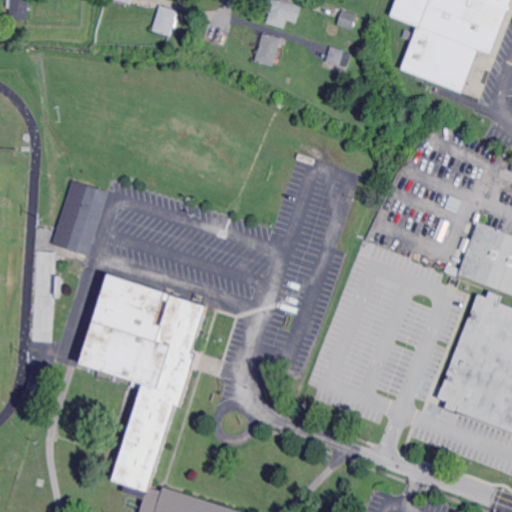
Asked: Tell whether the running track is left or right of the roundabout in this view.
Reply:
to the left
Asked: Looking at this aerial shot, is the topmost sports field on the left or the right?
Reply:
left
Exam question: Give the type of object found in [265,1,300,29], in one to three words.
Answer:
house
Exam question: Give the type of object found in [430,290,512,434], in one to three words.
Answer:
building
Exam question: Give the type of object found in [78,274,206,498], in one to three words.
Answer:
building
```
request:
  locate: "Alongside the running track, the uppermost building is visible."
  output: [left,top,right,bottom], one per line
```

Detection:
[51,180,108,255]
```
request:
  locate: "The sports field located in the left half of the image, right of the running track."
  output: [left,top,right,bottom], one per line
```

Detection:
[58,61,300,226]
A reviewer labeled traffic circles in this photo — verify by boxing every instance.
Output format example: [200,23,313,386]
[214,400,254,444]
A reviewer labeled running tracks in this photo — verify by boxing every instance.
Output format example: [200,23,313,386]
[0,82,40,428]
